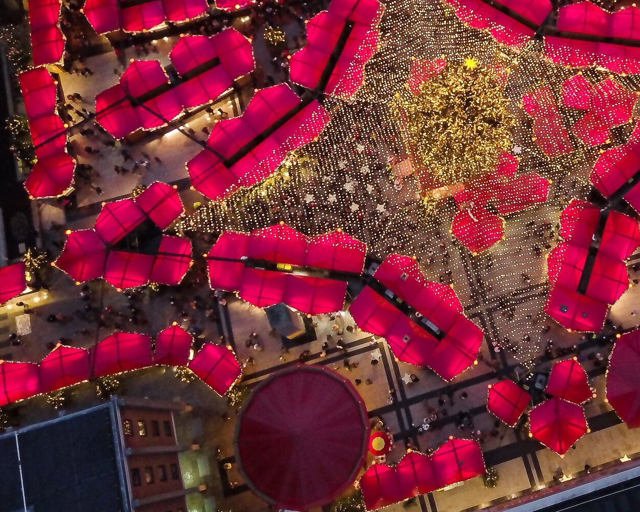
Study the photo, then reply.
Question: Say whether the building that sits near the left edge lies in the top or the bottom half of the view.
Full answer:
The bottom half of the photo is where the building that sits near the left edge is.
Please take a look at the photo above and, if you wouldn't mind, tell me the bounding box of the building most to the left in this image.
[0,391,222,512]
